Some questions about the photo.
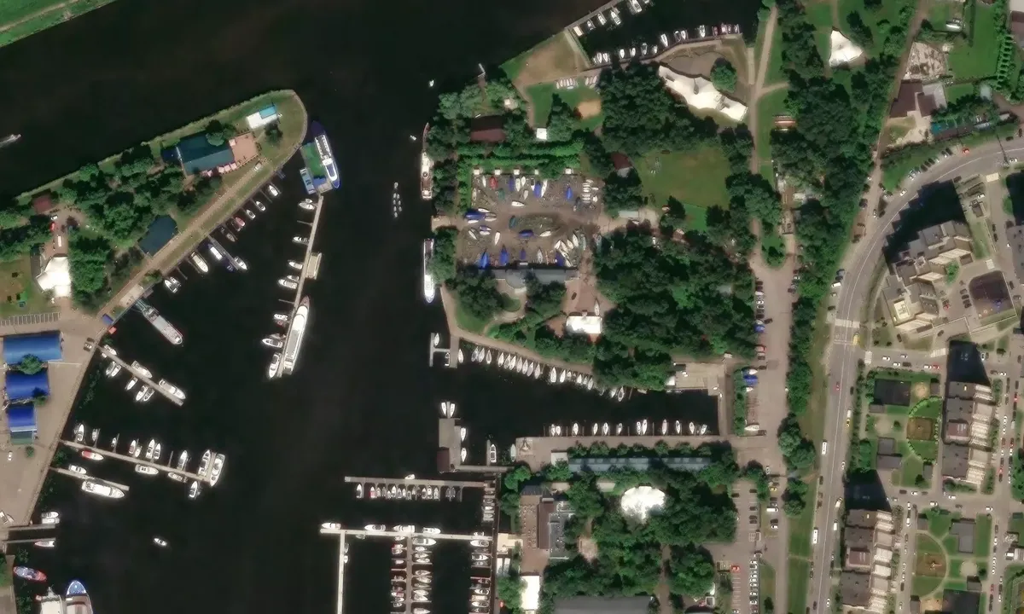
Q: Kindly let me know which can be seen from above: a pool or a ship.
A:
ship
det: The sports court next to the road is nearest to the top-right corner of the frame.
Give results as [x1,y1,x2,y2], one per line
[970,271,1015,320]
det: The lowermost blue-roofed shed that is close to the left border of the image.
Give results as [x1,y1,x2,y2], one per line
[6,404,36,445]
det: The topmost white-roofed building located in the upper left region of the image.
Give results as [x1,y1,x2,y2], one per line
[247,104,278,129]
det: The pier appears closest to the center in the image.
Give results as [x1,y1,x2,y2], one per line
[430,333,458,368]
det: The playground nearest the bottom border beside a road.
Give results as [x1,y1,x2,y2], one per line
[916,554,946,577]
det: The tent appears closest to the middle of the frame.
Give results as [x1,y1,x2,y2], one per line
[567,310,602,333]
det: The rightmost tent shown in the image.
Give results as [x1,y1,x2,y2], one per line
[830,31,862,66]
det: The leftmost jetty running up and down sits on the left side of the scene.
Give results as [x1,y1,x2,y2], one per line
[271,195,324,377]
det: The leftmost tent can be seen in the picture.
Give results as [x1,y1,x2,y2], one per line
[37,257,71,295]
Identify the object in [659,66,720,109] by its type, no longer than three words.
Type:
tent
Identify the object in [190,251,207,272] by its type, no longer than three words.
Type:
boat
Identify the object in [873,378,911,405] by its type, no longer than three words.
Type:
sports court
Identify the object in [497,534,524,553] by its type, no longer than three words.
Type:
building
